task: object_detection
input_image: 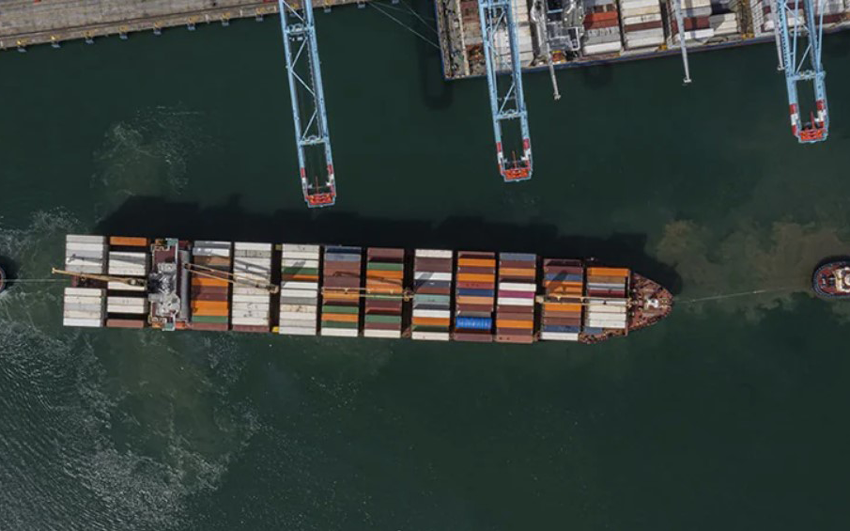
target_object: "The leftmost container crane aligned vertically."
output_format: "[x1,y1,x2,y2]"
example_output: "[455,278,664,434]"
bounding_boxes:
[275,0,340,209]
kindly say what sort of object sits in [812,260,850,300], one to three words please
boat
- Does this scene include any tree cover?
No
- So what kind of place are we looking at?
port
